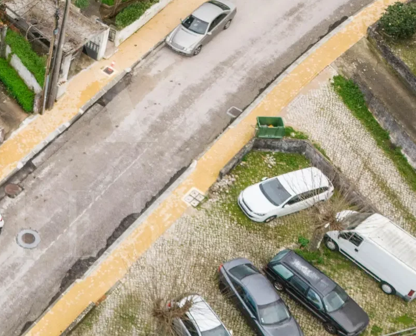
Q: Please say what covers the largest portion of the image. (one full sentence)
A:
The bulk of the photo consists of paved ground.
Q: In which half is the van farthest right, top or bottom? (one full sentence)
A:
It is in the bottom half that the van farthest right appears.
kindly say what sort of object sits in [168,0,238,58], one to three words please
car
